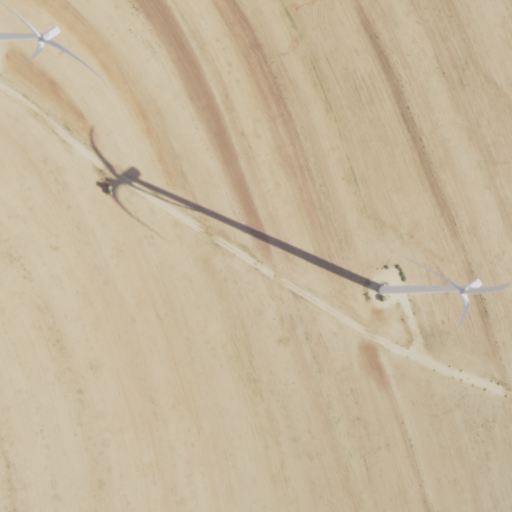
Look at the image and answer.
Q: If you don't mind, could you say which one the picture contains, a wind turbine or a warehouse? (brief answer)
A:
wind turbine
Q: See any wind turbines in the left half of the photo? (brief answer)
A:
Yes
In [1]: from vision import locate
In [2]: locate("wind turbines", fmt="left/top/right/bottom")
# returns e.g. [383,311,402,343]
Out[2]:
[0,0,106,80]
[377,254,510,330]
